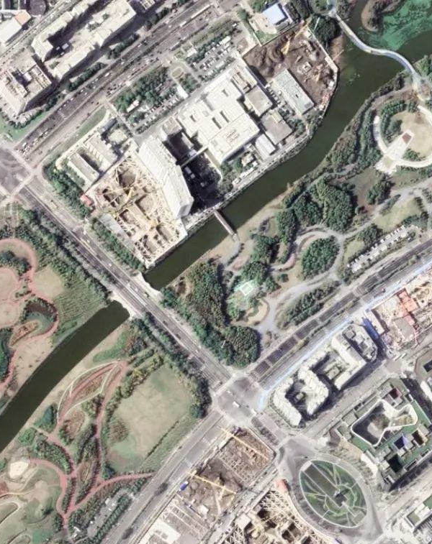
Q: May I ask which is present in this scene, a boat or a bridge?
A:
bridge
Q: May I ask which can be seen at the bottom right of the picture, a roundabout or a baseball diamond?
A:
roundabout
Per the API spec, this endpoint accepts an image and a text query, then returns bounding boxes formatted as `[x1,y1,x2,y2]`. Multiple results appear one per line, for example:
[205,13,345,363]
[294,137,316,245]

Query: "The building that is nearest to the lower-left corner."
[151,520,179,544]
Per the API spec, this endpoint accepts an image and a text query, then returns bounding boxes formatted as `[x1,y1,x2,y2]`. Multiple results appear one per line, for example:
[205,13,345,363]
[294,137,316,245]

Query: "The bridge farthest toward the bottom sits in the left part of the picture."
[97,257,174,328]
